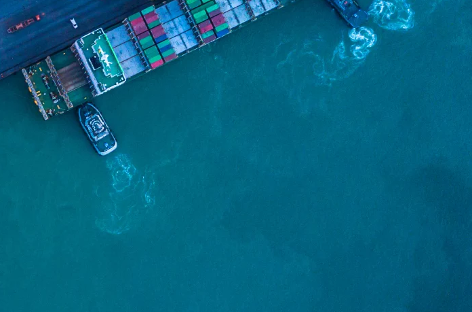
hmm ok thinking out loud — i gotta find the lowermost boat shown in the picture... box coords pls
[76,103,111,159]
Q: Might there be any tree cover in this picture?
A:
No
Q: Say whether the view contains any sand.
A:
No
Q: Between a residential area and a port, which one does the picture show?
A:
port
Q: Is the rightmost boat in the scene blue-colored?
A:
Yes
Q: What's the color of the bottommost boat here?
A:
blue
